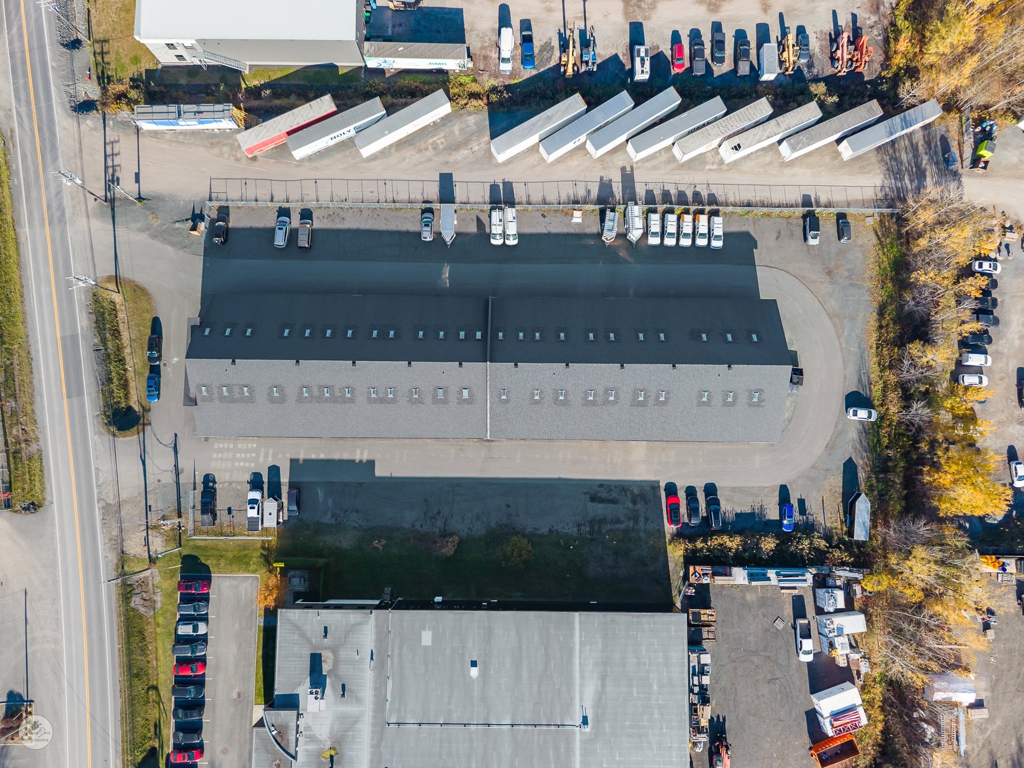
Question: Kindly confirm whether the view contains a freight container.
Yes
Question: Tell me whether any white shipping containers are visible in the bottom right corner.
Yes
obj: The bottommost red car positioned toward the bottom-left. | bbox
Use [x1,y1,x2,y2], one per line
[170,746,203,765]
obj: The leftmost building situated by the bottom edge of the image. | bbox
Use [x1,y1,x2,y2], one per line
[247,588,692,768]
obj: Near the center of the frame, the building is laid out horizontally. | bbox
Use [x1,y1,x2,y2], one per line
[183,295,794,443]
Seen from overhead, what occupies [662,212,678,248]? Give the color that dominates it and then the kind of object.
white vehicle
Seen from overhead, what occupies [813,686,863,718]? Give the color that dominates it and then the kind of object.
white shipping container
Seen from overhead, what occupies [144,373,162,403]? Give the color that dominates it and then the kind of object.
blue car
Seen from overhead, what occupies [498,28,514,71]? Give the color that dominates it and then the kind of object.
white vehicle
